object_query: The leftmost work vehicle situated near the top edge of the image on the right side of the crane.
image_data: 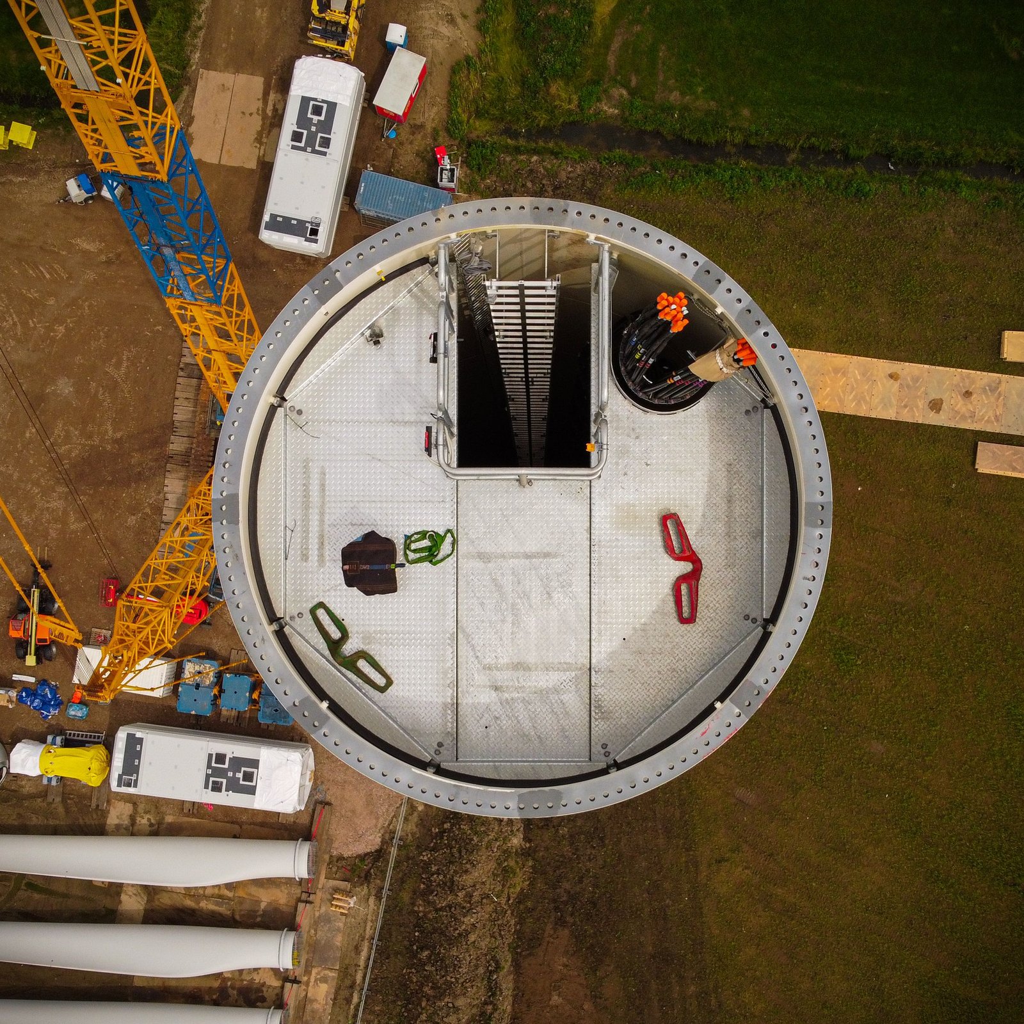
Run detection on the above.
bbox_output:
[304,0,365,67]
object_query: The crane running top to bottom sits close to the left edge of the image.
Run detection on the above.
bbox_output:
[0,0,261,706]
